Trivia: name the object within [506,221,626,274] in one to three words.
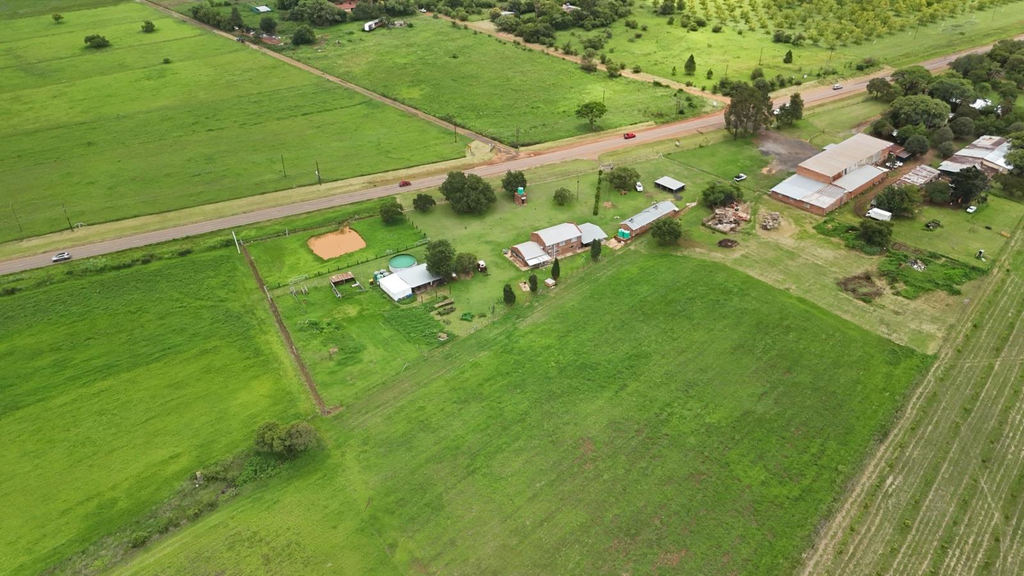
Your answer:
house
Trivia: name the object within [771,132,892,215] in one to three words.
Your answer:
building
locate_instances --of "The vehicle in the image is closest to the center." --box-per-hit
[478,257,492,274]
